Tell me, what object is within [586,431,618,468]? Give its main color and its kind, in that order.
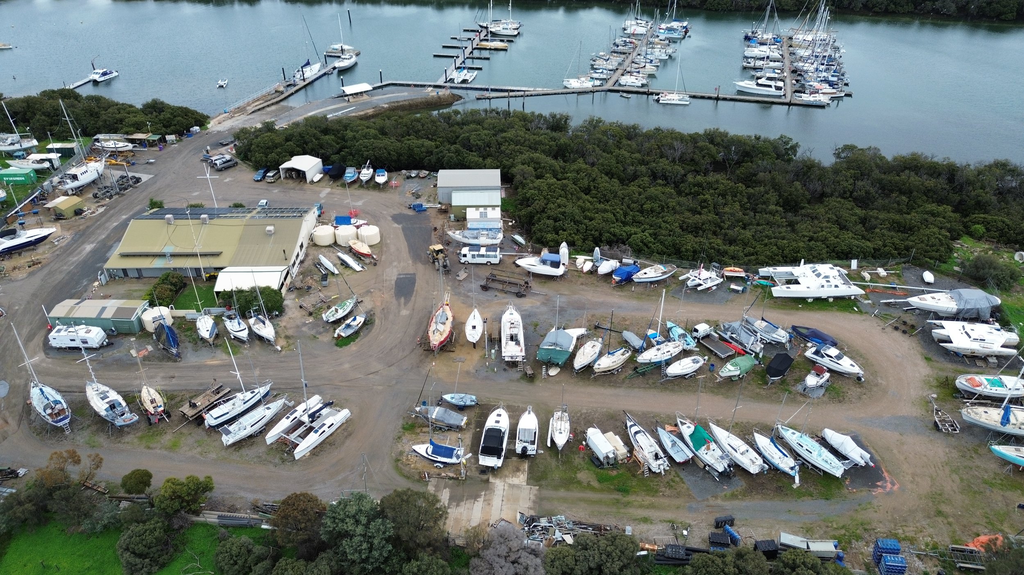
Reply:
white trailer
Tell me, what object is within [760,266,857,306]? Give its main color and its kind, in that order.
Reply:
white boat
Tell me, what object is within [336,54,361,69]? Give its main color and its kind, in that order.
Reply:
white boat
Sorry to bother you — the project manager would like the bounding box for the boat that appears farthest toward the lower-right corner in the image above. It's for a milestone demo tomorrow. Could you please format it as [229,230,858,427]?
[992,440,1024,472]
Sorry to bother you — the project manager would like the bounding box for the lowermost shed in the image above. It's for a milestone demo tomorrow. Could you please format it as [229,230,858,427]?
[46,297,151,333]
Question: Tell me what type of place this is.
port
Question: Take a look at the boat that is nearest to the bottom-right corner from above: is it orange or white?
white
